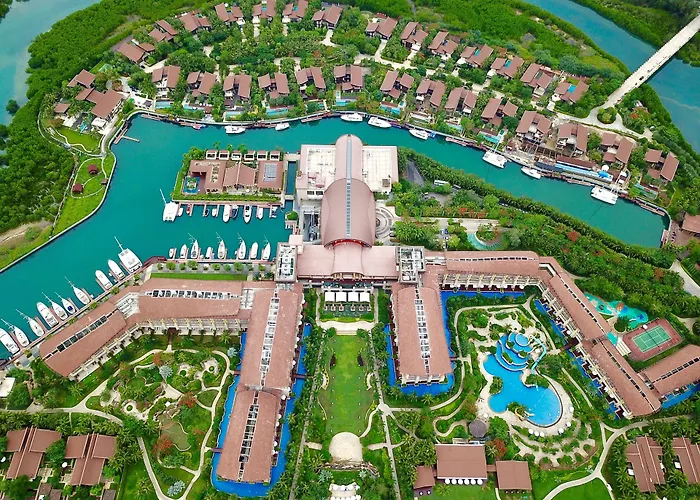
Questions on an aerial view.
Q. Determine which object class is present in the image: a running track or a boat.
boat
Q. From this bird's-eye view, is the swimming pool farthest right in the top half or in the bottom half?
bottom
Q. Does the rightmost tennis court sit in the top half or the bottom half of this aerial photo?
bottom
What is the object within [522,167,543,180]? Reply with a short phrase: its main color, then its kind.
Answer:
white boat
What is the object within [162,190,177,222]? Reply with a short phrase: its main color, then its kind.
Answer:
white boat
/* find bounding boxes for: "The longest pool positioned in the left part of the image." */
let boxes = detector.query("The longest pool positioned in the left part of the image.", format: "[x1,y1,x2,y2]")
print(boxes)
[210,323,310,498]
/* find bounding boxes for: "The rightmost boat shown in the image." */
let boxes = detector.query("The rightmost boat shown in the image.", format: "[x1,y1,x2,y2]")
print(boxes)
[592,187,618,205]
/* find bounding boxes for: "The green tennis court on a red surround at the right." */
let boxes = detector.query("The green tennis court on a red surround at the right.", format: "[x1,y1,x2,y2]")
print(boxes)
[623,316,686,361]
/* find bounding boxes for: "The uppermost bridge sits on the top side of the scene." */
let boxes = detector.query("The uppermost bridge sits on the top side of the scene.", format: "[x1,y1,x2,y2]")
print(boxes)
[623,10,700,86]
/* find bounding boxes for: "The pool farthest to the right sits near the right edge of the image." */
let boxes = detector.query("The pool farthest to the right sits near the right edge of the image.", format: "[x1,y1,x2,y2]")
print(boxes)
[660,380,700,410]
